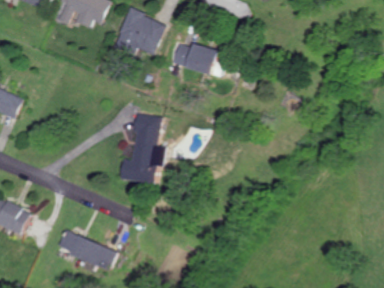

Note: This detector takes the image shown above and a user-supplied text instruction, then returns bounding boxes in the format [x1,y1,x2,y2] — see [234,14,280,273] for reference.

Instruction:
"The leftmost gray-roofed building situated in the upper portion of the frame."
[0,89,26,118]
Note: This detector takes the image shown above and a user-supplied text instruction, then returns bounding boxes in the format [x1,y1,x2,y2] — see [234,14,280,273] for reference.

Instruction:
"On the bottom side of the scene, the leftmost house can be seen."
[0,200,32,236]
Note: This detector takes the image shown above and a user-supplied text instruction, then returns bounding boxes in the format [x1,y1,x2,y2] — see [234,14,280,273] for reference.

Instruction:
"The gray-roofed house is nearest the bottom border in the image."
[59,230,118,272]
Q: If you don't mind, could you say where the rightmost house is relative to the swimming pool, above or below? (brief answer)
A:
above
